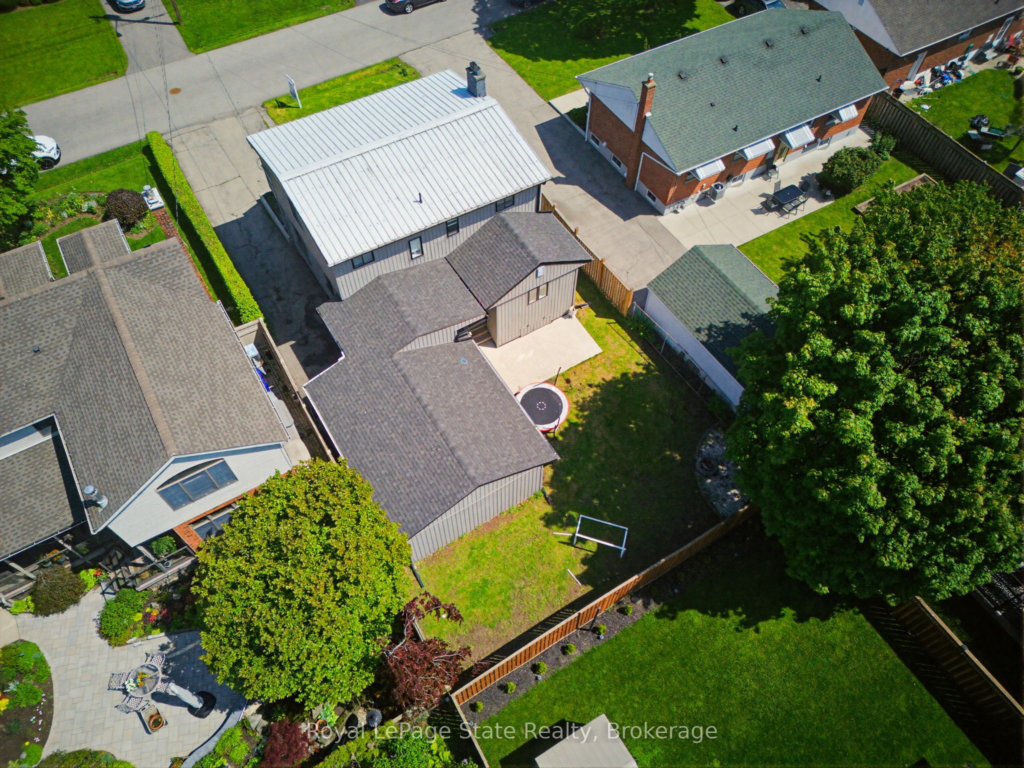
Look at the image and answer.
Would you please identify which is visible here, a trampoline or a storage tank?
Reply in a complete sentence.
There is a trampoline in the scene.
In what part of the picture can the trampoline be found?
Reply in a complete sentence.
Look in the center portion of the view to spot the trampoline.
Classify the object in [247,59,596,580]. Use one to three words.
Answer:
house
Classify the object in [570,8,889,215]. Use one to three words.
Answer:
house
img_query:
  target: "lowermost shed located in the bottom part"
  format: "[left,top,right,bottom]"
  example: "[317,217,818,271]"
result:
[534,714,638,768]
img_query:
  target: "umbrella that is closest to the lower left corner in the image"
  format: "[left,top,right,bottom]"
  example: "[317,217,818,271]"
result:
[176,681,216,720]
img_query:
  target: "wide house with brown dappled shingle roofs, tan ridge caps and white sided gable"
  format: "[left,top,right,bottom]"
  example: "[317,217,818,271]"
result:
[0,185,300,599]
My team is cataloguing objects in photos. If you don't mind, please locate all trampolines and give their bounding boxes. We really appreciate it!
[516,369,571,432]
